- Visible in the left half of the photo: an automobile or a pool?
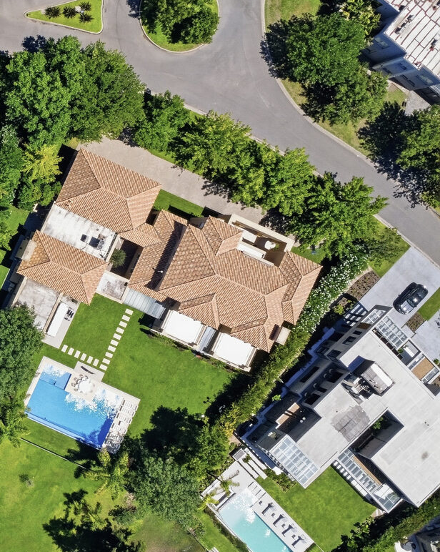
pool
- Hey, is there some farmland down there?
No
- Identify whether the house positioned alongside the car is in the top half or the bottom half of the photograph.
bottom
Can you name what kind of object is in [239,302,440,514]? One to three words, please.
house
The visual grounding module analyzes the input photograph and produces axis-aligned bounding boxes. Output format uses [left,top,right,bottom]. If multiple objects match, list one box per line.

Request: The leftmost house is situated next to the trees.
[7,149,324,373]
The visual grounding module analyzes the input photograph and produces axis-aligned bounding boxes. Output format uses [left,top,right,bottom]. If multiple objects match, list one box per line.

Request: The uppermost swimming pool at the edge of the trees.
[20,356,141,451]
